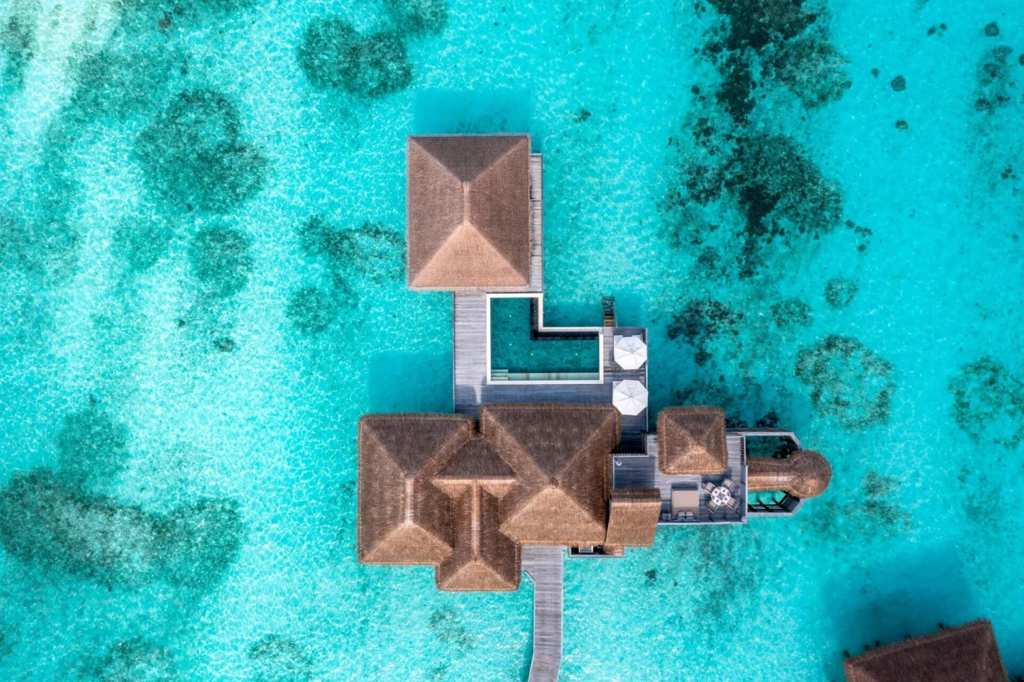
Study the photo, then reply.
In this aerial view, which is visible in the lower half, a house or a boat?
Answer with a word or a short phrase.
house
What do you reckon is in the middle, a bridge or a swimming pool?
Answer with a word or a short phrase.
swimming pool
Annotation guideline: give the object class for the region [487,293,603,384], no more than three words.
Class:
swimming pool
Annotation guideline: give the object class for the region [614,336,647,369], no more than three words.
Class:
umbrella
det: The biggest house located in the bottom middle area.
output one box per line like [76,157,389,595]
[357,401,662,593]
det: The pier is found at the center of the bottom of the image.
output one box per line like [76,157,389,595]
[521,547,564,682]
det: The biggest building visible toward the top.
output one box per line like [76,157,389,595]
[405,132,534,294]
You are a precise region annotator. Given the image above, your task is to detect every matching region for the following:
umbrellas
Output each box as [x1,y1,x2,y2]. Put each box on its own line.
[612,380,647,415]
[614,336,647,369]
